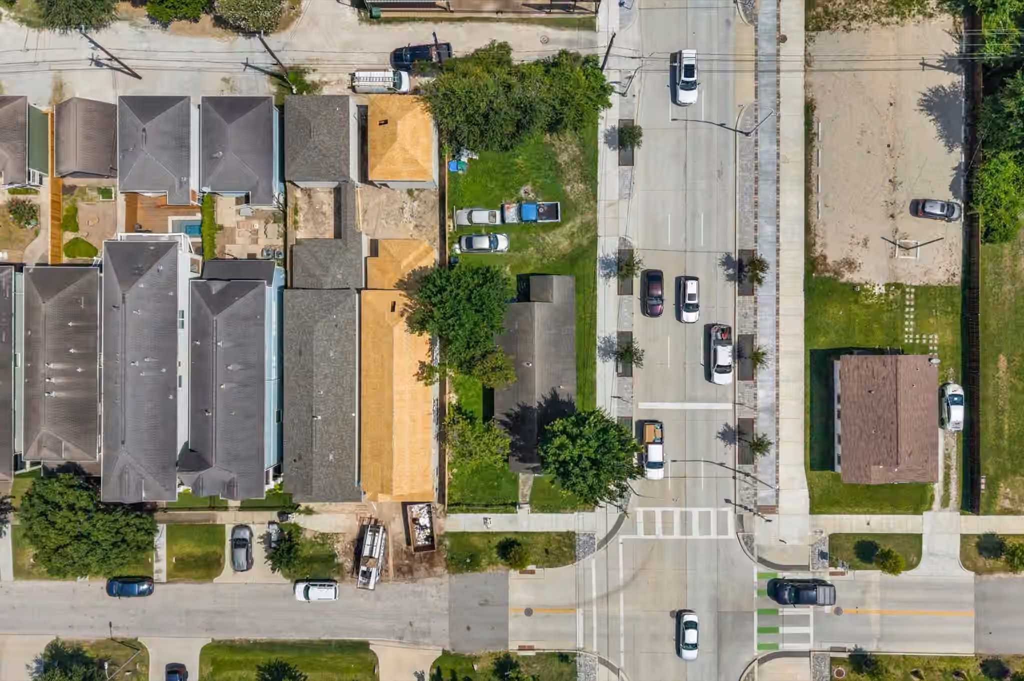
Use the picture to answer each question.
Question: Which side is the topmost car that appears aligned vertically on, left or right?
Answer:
right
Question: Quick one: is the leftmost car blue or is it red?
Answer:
blue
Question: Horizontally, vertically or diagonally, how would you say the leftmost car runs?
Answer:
horizontally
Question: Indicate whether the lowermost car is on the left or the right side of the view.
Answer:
left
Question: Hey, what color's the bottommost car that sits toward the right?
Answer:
white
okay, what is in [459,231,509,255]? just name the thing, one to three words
car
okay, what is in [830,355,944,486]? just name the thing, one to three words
house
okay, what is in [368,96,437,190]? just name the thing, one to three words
building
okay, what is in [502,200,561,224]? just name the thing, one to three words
truck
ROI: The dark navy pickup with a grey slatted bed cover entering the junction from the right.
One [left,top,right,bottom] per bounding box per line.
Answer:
[769,578,834,606]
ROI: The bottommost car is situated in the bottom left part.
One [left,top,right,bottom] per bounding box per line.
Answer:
[166,661,190,681]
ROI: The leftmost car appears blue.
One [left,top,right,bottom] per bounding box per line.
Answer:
[108,575,156,598]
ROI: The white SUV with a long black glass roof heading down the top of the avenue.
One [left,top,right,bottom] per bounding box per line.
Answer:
[675,52,700,104]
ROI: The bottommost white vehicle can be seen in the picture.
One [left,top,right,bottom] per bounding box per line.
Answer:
[678,612,701,661]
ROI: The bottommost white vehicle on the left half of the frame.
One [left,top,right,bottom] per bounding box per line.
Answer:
[296,579,339,603]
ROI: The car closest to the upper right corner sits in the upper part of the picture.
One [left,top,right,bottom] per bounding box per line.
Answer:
[910,199,957,223]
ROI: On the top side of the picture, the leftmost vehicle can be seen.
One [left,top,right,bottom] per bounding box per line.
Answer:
[350,68,409,94]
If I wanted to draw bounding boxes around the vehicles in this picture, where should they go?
[393,43,453,71]
[938,385,964,431]
[296,579,339,603]
[353,522,387,596]
[642,420,667,480]
[709,323,735,384]
[675,52,700,104]
[502,200,561,224]
[166,661,190,681]
[910,199,957,223]
[459,231,509,255]
[350,68,409,94]
[456,205,501,228]
[769,578,834,606]
[642,270,666,317]
[230,523,255,570]
[678,612,701,661]
[108,575,156,598]
[678,277,702,323]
